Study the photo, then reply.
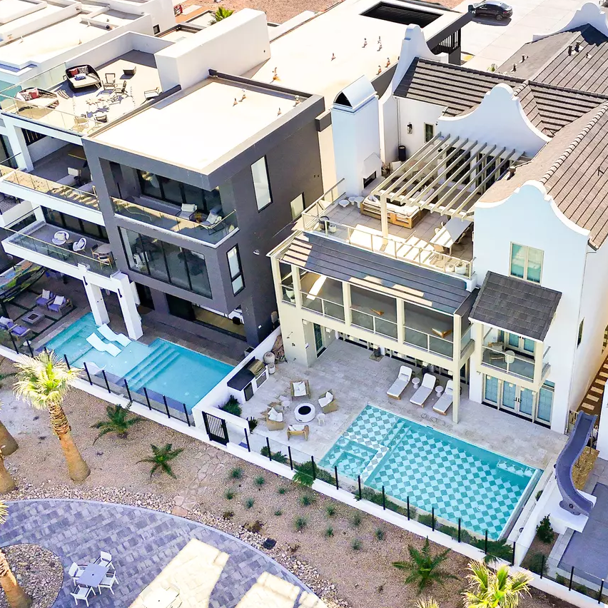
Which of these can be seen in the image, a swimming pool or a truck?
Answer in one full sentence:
Of the two, only a swimming pool appears.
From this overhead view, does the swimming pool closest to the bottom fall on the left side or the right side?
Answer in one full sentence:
The swimming pool closest to the bottom appears in the right half of the scene.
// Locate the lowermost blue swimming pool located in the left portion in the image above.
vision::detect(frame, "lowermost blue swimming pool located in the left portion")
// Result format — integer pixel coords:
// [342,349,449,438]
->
[25,305,225,411]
